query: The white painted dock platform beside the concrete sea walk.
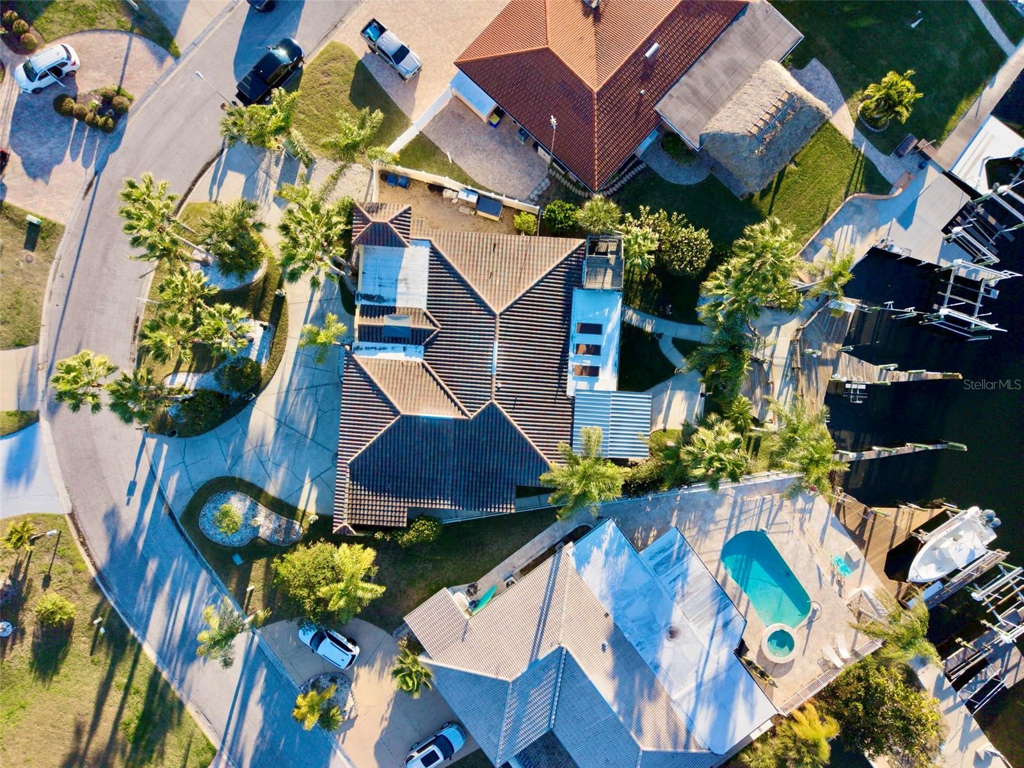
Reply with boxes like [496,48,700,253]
[948,116,1024,194]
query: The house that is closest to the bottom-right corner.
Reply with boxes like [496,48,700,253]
[404,516,780,768]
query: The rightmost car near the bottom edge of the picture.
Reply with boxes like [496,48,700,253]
[403,722,467,768]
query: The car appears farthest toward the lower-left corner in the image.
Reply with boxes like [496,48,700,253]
[297,621,362,674]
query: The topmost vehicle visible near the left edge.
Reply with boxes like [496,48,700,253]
[15,43,87,95]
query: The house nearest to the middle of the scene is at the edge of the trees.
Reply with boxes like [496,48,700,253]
[332,201,622,536]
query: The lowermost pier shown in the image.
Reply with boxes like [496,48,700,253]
[942,600,1024,688]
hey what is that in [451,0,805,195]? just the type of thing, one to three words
house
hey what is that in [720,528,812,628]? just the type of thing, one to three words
swimming pool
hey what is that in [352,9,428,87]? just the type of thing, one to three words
truck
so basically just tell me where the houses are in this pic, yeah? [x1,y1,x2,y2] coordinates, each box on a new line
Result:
[451,0,805,195]
[332,201,622,536]
[404,516,780,768]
